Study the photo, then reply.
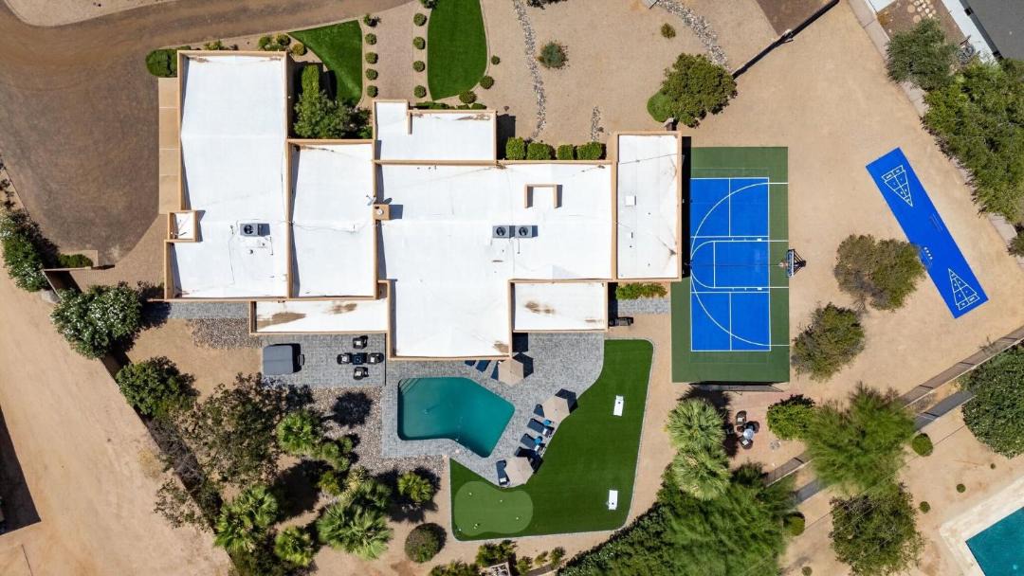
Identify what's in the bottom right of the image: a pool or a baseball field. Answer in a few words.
pool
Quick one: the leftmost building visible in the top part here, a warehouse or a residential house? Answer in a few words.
residential house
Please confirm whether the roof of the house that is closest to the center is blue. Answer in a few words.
No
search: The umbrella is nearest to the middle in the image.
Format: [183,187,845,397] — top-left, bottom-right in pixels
[499,359,523,385]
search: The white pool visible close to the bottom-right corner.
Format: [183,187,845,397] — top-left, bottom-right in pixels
[940,477,1024,576]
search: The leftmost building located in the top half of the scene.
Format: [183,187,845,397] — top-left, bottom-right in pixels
[161,50,682,360]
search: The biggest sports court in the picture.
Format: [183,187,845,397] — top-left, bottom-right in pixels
[670,147,789,383]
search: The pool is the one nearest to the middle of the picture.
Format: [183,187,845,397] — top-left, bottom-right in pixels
[394,373,519,462]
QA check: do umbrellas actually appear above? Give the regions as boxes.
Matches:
[542,396,569,423]
[506,455,531,484]
[499,359,523,385]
